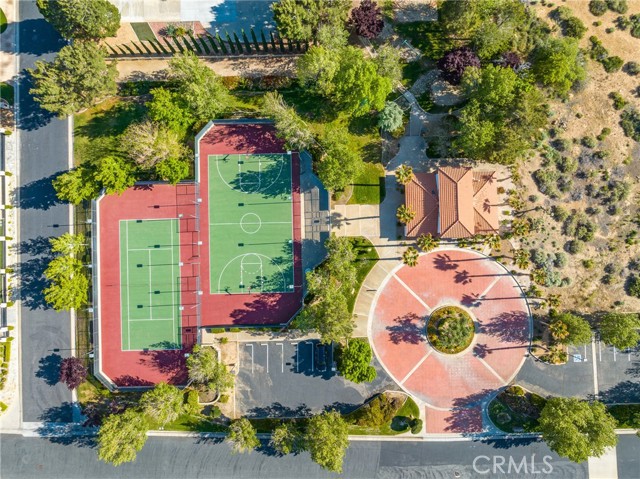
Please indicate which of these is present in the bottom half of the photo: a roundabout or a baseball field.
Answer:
roundabout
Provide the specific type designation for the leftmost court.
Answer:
tennis court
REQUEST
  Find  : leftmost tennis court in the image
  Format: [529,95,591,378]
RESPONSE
[98,181,201,388]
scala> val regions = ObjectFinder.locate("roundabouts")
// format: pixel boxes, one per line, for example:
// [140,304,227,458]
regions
[368,247,532,411]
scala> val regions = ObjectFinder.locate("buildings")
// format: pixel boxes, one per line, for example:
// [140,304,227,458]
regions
[404,166,501,238]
